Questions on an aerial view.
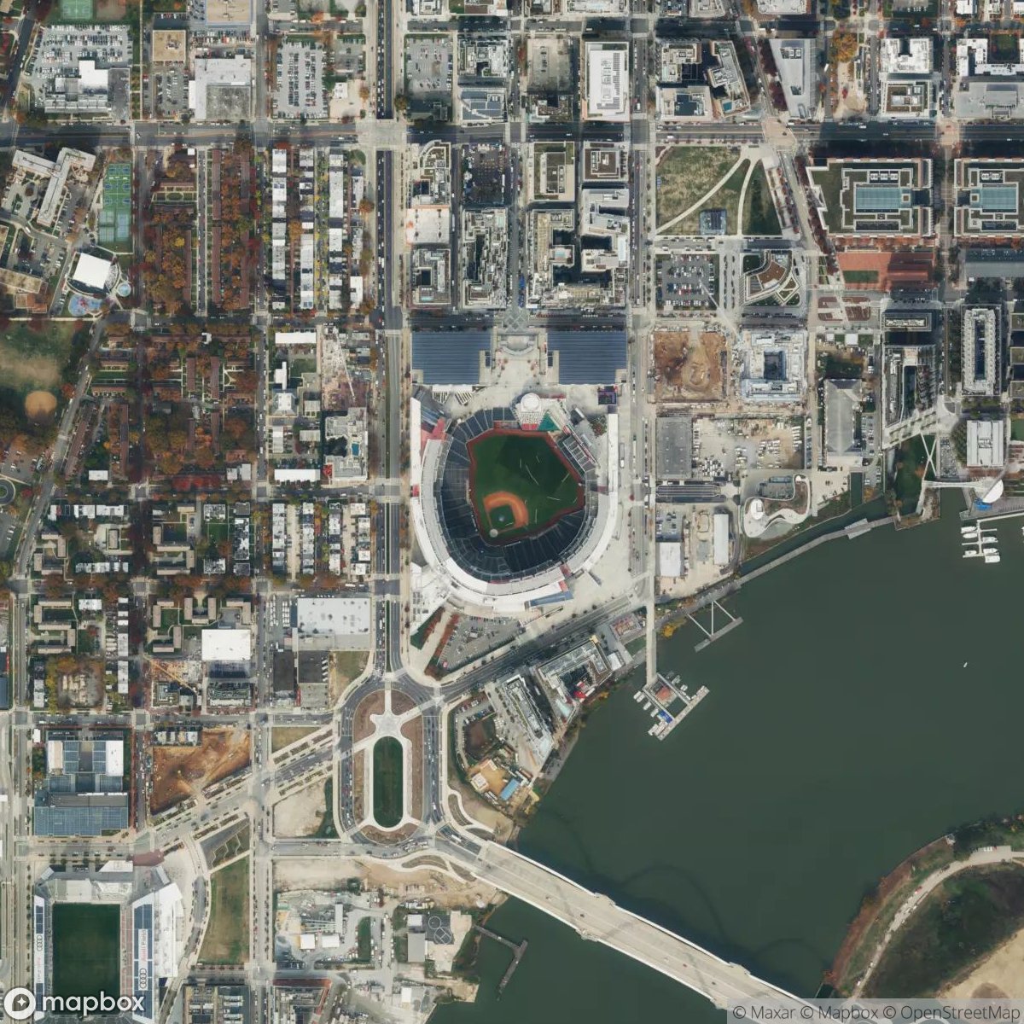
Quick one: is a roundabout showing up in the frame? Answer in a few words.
Yes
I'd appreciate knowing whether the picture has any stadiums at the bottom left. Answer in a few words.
Yes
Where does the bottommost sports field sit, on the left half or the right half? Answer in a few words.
left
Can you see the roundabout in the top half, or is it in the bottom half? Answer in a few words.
bottom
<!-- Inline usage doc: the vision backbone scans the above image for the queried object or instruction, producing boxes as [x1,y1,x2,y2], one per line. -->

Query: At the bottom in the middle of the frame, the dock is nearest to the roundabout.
[475,925,527,993]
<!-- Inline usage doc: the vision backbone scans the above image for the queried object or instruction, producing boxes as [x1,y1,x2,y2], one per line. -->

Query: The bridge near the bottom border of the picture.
[472,840,841,1024]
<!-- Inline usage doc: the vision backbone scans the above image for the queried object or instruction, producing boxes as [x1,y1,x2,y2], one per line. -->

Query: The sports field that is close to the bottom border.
[52,904,120,1015]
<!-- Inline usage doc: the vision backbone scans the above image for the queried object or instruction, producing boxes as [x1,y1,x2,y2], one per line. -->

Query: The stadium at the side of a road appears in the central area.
[410,385,618,617]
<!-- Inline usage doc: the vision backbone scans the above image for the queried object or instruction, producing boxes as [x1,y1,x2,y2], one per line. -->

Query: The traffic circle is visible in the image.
[337,674,440,856]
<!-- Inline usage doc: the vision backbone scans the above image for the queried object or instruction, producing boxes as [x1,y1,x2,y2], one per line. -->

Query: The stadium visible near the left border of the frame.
[34,867,184,1024]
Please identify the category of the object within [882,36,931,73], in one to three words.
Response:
building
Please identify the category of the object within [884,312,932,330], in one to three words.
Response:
building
